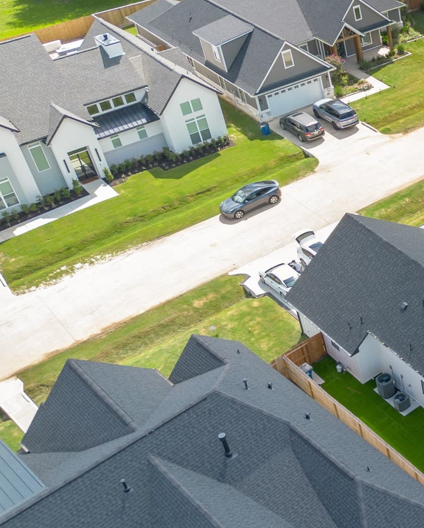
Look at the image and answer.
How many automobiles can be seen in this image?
5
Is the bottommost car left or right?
right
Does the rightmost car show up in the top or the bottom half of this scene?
top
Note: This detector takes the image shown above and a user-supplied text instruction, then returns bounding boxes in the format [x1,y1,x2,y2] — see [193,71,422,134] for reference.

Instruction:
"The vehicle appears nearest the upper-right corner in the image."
[312,100,358,129]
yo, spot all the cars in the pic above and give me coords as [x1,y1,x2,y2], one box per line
[278,110,327,140]
[214,179,281,219]
[257,259,302,299]
[312,100,358,129]
[294,225,328,265]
